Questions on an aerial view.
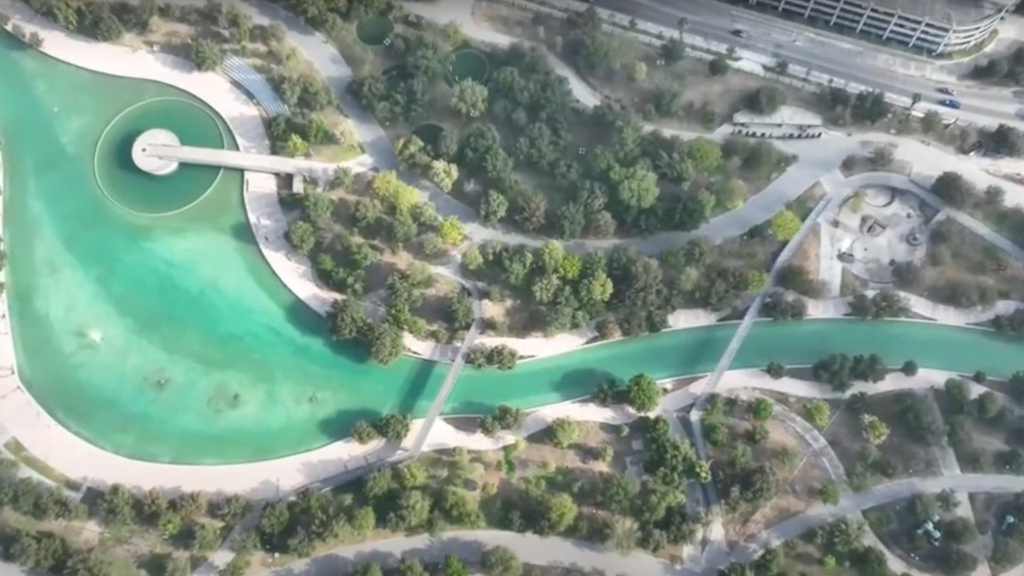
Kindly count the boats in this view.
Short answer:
0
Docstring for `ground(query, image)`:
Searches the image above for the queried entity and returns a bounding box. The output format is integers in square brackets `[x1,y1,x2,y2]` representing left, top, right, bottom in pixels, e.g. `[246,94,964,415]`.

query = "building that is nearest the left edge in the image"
[733,106,822,128]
